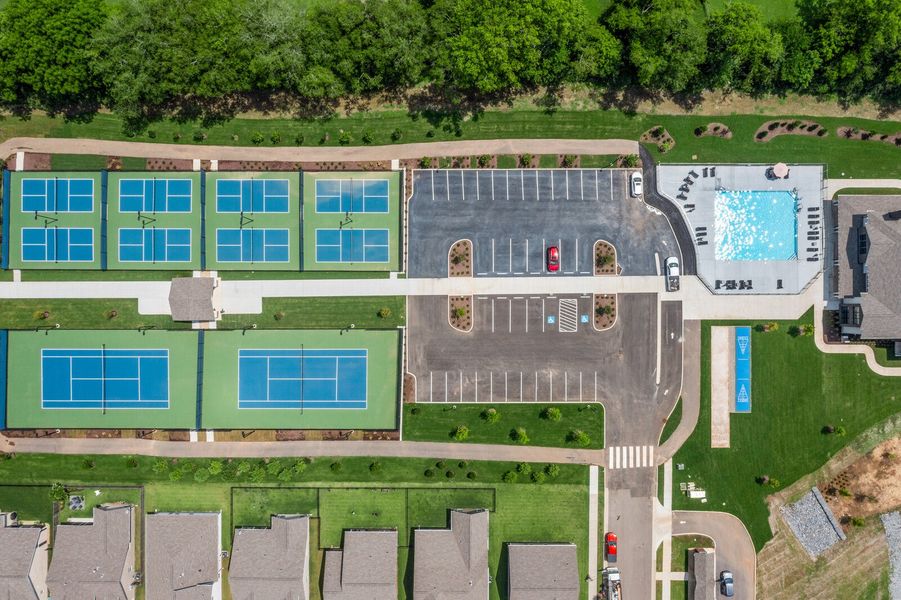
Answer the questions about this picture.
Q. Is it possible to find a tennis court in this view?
Yes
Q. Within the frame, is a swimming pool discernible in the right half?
Yes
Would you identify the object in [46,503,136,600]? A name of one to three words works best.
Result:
house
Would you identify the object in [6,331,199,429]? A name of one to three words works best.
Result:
tennis court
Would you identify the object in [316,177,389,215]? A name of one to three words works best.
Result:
sports court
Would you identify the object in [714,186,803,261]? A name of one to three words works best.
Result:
swimming pool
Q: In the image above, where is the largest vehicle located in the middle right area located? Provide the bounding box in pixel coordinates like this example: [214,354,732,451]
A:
[666,257,681,292]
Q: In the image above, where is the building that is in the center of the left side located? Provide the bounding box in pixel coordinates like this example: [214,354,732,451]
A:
[169,277,216,321]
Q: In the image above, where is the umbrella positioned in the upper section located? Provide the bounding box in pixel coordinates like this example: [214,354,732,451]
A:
[773,163,788,177]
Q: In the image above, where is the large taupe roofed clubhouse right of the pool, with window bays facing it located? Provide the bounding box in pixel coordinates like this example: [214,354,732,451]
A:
[830,194,901,358]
